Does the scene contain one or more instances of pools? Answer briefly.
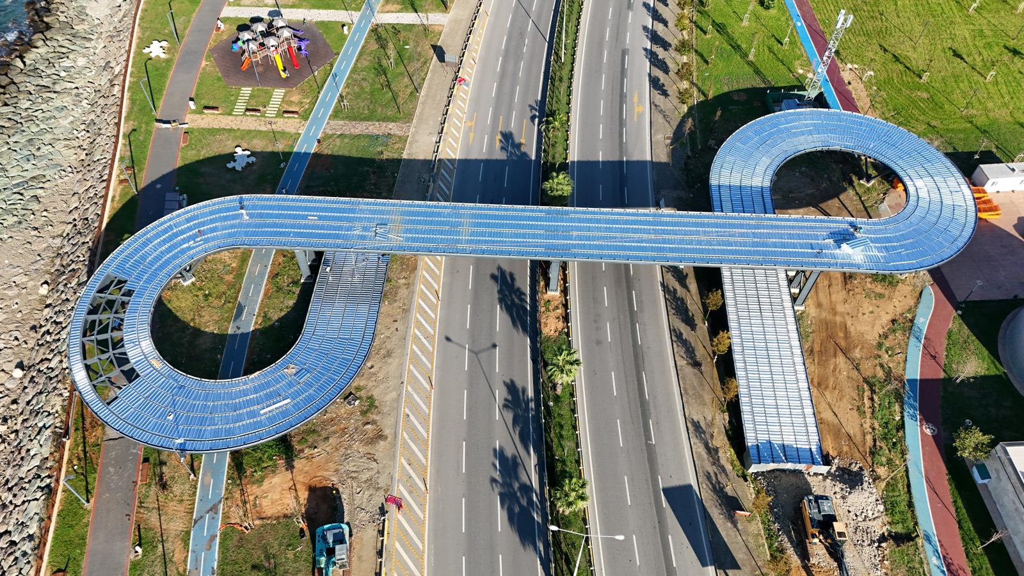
No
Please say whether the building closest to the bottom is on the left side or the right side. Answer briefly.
right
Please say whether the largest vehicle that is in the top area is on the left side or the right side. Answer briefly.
left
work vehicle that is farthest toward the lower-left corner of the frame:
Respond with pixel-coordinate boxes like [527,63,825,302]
[313,523,355,576]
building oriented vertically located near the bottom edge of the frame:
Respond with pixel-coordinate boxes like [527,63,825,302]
[975,441,1024,551]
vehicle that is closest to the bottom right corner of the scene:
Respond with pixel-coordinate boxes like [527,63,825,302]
[793,495,850,576]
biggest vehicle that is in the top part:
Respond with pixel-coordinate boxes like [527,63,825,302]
[157,191,195,211]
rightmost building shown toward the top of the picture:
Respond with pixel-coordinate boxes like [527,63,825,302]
[973,162,1024,192]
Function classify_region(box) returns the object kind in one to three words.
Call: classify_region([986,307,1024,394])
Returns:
building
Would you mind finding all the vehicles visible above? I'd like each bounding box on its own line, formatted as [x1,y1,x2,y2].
[313,523,355,576]
[157,191,195,211]
[793,495,850,576]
